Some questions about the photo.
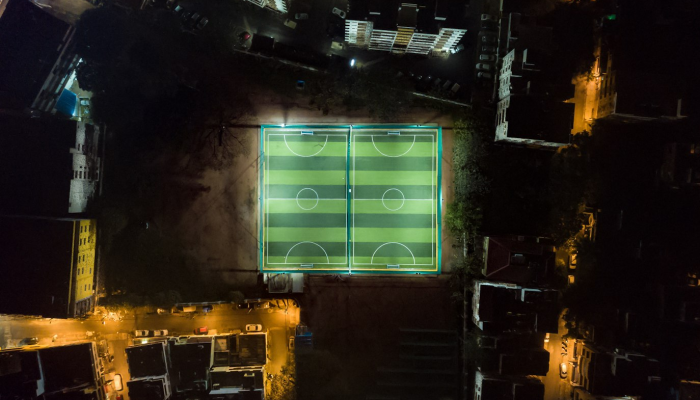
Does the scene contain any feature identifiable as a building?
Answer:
Yes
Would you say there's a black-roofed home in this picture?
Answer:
Yes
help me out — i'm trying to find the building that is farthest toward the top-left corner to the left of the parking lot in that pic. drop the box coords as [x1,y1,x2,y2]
[0,0,88,105]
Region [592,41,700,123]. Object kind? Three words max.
building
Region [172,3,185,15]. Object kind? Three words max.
vehicle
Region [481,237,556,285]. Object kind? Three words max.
house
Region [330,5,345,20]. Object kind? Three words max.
car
